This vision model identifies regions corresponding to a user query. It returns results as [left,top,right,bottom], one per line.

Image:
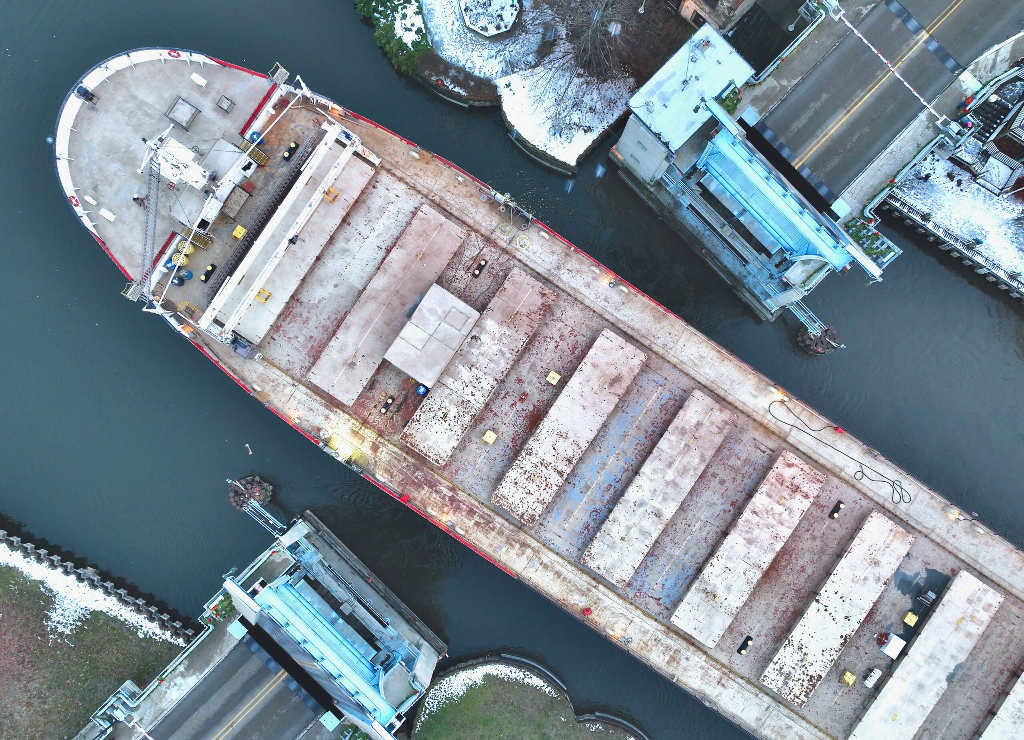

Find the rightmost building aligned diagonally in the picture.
[599,22,756,183]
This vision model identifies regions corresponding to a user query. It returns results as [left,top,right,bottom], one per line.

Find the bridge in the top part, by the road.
[616,102,883,322]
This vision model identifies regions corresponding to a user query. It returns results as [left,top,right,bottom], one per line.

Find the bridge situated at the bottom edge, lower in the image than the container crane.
[220,508,451,740]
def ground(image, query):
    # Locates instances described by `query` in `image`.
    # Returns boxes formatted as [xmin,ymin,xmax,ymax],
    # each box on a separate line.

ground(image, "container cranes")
[175,106,385,363]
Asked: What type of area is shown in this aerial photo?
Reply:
port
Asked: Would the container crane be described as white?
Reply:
Yes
